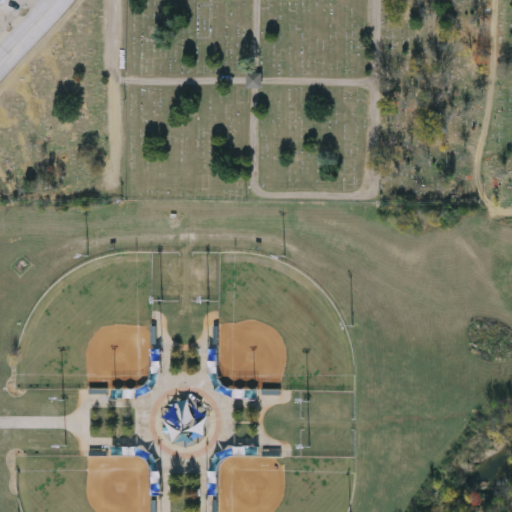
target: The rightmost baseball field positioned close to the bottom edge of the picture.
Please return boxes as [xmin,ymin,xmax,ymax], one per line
[219,458,354,512]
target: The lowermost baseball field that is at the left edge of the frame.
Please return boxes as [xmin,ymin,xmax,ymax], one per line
[18,457,152,512]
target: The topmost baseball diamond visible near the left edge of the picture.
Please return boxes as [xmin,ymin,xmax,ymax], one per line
[18,252,152,389]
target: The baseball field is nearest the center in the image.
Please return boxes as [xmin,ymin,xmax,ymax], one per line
[219,253,354,392]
